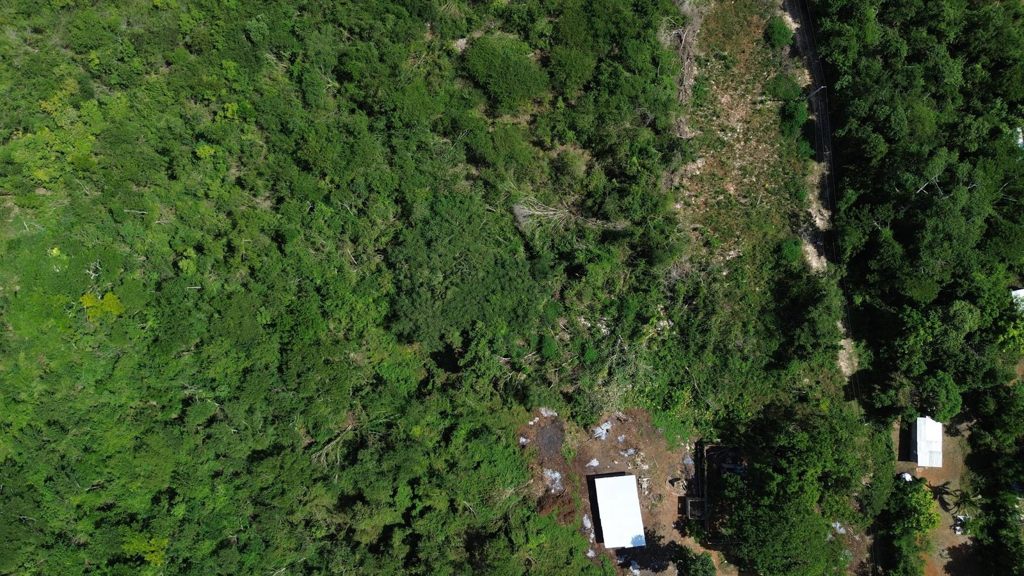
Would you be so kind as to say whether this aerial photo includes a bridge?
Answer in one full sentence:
No, I find no bridge anywhere in the image.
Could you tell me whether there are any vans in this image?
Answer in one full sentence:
No, I can see no van in this picture.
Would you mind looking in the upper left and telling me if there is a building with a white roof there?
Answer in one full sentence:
No, looking in the upper left, there is no building with a white roof.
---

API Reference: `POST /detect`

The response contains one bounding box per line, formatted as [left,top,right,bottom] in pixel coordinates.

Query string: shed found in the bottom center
[596,473,646,548]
